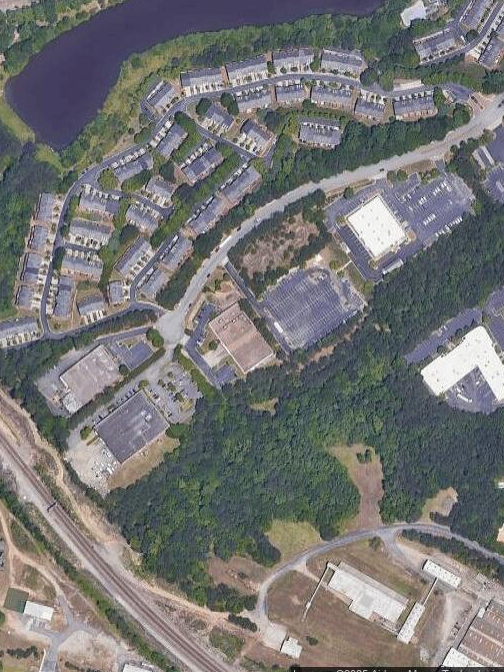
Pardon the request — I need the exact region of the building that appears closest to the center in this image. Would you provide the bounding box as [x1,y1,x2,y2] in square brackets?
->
[210,302,275,373]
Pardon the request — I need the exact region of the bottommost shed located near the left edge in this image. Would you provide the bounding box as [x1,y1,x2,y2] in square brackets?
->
[23,599,54,622]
